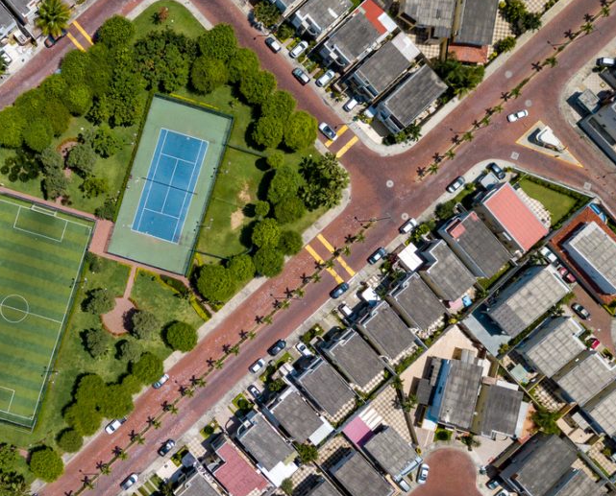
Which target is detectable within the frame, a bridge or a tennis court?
tennis court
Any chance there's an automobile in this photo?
Yes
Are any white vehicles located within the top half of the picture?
Yes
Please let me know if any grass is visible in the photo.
Yes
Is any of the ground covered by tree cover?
Yes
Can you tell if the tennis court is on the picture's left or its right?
left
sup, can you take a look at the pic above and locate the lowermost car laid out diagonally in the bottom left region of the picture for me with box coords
[120,473,139,490]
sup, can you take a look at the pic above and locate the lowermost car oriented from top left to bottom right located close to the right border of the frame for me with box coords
[570,302,590,321]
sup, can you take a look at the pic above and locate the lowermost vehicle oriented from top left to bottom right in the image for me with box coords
[394,476,414,496]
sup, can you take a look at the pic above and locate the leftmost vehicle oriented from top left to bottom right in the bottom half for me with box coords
[247,384,263,402]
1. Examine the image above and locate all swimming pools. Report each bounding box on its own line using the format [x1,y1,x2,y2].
[590,202,607,220]
[462,293,475,308]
